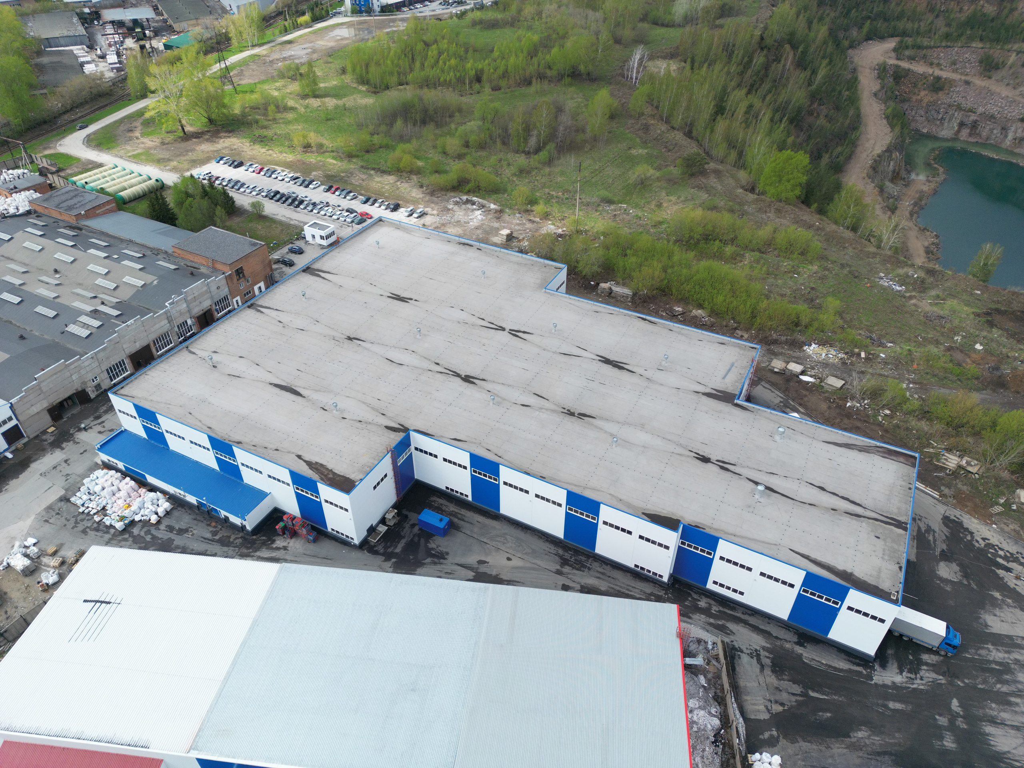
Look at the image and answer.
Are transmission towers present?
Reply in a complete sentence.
Yes, a transmission tower is visible in the scene.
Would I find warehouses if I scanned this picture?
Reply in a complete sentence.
Yes, there's a warehouse here.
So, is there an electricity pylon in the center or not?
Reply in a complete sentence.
No, no electricity pylon can be made out in the center.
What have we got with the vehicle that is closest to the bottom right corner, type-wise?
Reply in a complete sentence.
Specifically, the vehicle that is closest to the bottom right corner is a truck.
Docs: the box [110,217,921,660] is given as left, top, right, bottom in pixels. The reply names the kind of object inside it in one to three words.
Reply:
warehouse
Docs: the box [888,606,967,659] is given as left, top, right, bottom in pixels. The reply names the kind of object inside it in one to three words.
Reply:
truck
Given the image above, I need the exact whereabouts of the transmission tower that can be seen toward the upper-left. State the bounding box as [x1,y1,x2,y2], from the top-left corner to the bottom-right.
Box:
[213,32,242,93]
